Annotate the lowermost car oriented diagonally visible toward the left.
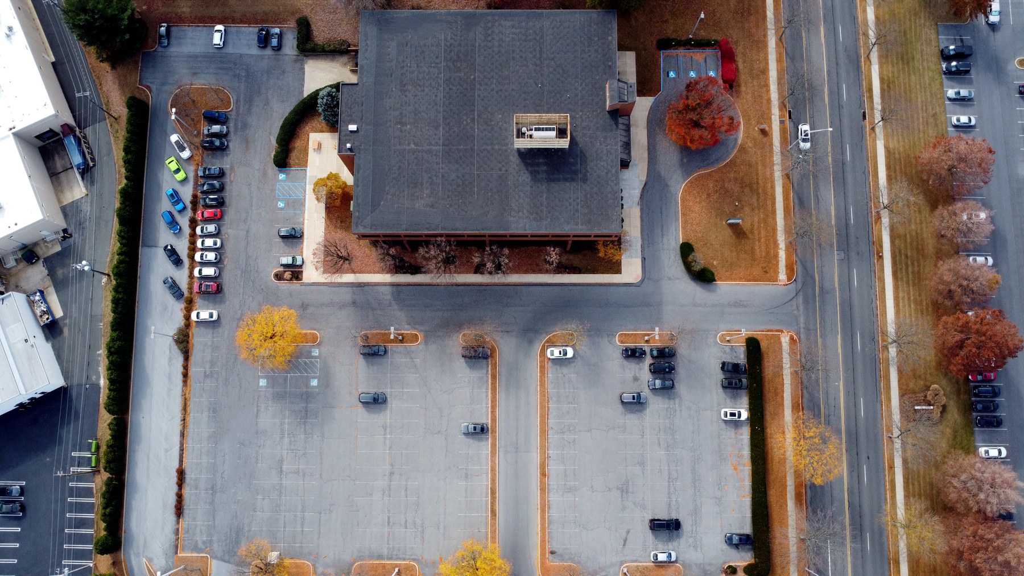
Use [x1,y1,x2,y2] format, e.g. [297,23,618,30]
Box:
[163,275,184,301]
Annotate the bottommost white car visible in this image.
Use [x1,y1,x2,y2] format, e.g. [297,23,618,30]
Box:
[649,550,677,564]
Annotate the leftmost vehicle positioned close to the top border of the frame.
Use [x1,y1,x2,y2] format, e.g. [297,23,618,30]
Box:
[158,24,171,48]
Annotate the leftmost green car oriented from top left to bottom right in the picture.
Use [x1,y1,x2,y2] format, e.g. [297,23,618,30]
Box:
[167,157,186,181]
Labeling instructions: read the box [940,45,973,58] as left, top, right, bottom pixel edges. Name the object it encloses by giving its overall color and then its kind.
black vehicle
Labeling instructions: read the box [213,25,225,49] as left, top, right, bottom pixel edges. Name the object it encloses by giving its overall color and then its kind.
white vehicle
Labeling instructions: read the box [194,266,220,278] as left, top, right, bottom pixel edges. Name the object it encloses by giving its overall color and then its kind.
white vehicle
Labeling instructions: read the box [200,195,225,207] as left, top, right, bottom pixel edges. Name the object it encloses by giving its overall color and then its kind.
black vehicle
